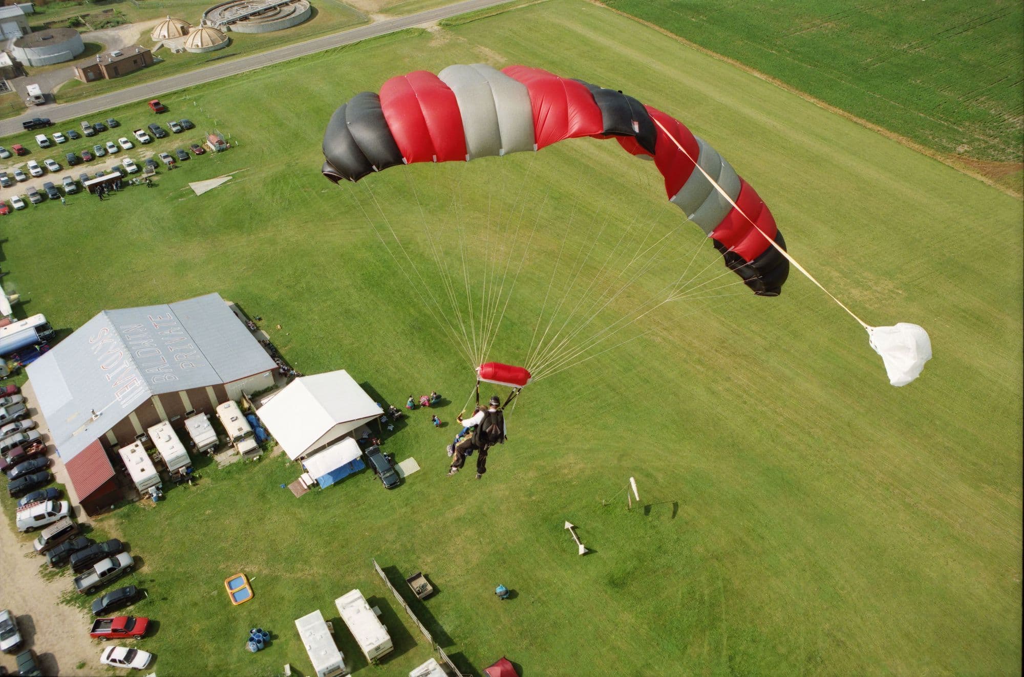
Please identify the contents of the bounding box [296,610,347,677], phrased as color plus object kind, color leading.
white camper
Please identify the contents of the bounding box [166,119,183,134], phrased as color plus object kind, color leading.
gray vehicle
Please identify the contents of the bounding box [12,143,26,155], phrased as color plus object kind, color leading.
red vehicle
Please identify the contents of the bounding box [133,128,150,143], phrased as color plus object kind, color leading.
white vehicle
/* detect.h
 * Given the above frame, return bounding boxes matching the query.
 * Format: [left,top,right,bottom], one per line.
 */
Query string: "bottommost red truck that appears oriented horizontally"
[85,614,154,645]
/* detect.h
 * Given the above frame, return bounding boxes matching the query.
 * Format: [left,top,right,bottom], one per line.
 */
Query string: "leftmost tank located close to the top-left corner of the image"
[14,27,84,66]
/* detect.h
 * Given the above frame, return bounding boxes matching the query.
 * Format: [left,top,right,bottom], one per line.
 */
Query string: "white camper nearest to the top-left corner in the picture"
[27,84,47,109]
